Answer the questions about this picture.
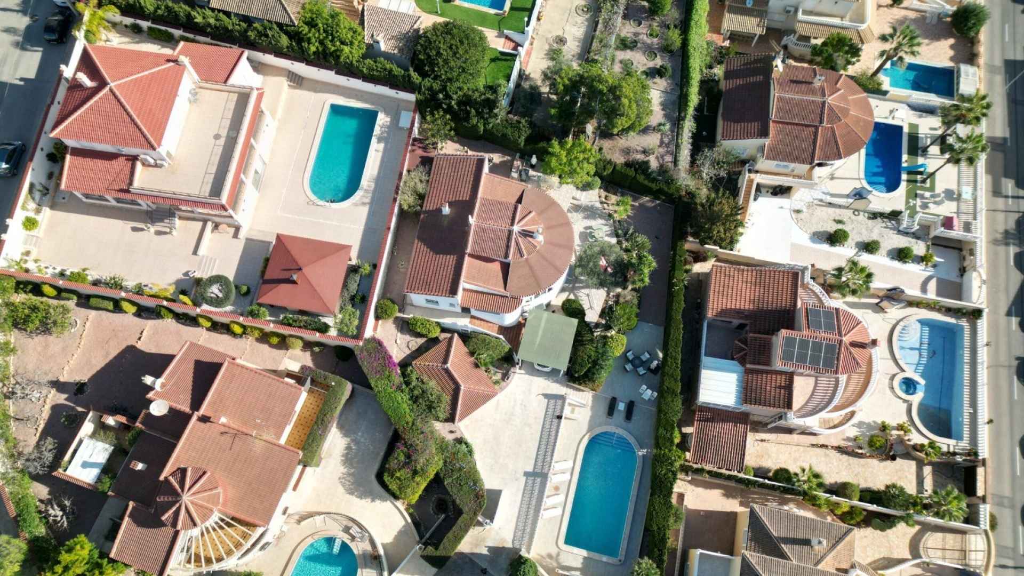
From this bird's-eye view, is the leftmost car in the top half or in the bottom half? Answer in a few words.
top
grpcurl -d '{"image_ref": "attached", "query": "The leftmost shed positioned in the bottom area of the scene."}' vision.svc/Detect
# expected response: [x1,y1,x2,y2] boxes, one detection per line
[65,437,126,484]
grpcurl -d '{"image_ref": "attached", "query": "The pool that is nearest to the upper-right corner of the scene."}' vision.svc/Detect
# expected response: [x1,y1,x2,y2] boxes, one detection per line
[879,60,958,100]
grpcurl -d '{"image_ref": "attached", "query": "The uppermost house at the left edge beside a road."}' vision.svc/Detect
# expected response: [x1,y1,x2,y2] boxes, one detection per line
[48,40,304,237]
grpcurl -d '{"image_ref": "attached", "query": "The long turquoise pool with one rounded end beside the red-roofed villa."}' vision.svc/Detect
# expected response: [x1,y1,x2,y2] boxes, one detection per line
[304,99,384,207]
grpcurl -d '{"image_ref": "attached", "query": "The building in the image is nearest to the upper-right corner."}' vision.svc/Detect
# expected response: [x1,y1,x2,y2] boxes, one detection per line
[954,65,978,100]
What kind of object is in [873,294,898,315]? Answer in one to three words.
umbrella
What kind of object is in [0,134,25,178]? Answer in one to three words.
car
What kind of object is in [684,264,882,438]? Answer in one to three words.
house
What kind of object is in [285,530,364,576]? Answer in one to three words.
swimming pool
